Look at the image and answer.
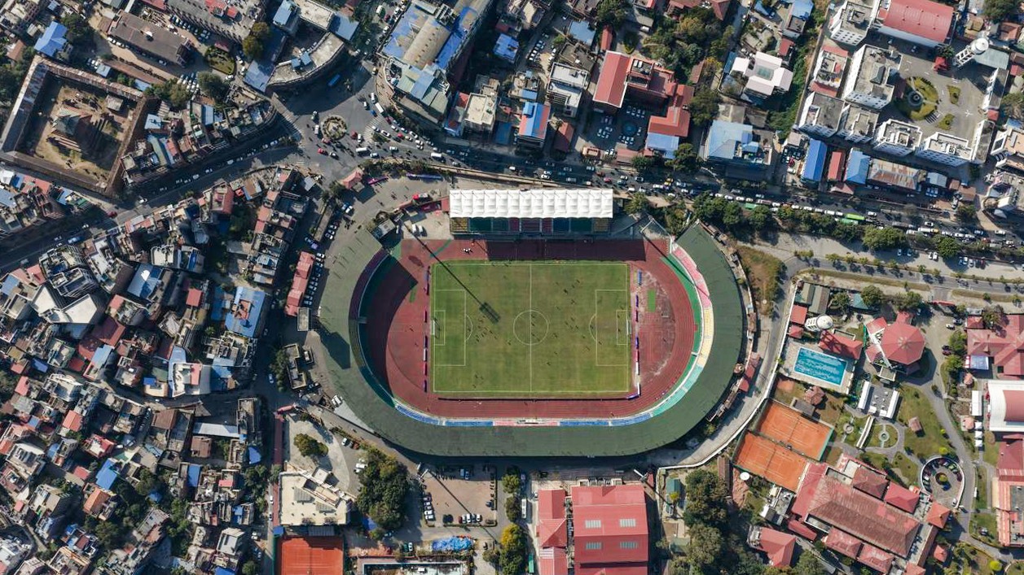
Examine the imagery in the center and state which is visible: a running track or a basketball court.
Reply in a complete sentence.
The one visible in the center is a running track.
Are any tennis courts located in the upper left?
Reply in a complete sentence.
No, no tennis court is visible in the upper left.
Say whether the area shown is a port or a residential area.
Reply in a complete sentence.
The area seen from above is a residential area.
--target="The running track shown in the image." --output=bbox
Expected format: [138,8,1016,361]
[361,238,700,419]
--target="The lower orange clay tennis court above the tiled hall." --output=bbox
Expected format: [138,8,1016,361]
[734,433,809,491]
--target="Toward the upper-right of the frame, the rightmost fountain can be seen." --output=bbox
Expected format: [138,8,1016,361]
[908,88,926,105]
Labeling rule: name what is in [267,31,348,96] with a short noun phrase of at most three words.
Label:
building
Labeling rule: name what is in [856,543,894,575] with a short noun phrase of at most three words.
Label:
house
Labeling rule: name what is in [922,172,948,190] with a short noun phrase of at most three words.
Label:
shed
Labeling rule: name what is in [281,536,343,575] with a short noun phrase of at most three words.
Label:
tennis court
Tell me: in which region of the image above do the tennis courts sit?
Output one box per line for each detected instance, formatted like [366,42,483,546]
[734,433,809,491]
[281,536,343,575]
[759,401,837,461]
